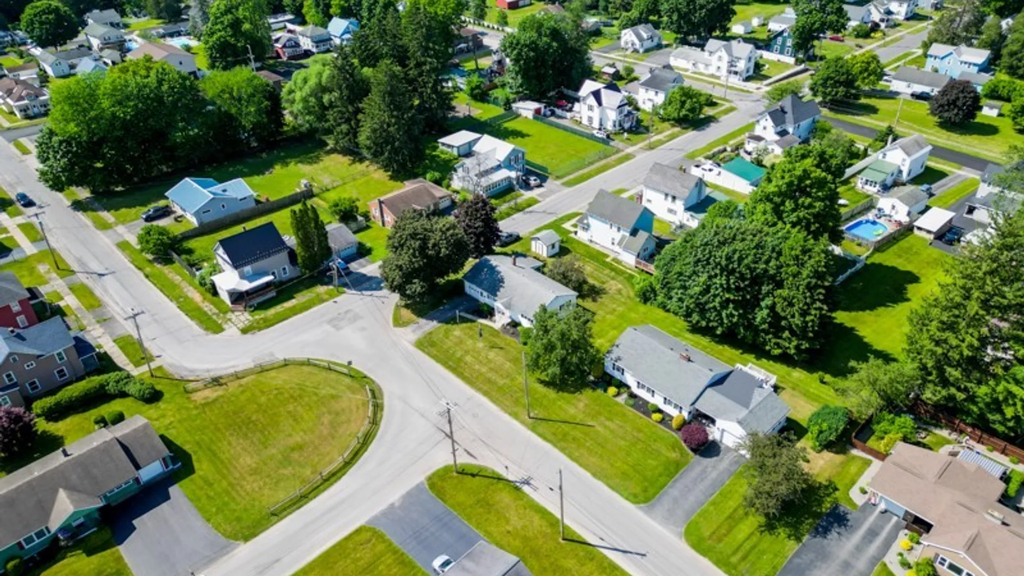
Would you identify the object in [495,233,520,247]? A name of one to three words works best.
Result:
car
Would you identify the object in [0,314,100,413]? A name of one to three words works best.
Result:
house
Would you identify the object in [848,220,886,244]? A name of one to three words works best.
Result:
swimming pool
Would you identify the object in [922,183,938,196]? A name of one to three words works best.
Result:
vehicle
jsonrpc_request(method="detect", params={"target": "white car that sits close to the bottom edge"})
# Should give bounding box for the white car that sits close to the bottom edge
[433,553,455,573]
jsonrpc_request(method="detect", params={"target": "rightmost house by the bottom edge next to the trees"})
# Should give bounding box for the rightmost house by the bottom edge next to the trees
[868,440,1024,576]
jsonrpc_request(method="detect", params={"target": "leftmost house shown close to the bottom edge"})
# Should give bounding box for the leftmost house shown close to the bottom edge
[0,414,173,560]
